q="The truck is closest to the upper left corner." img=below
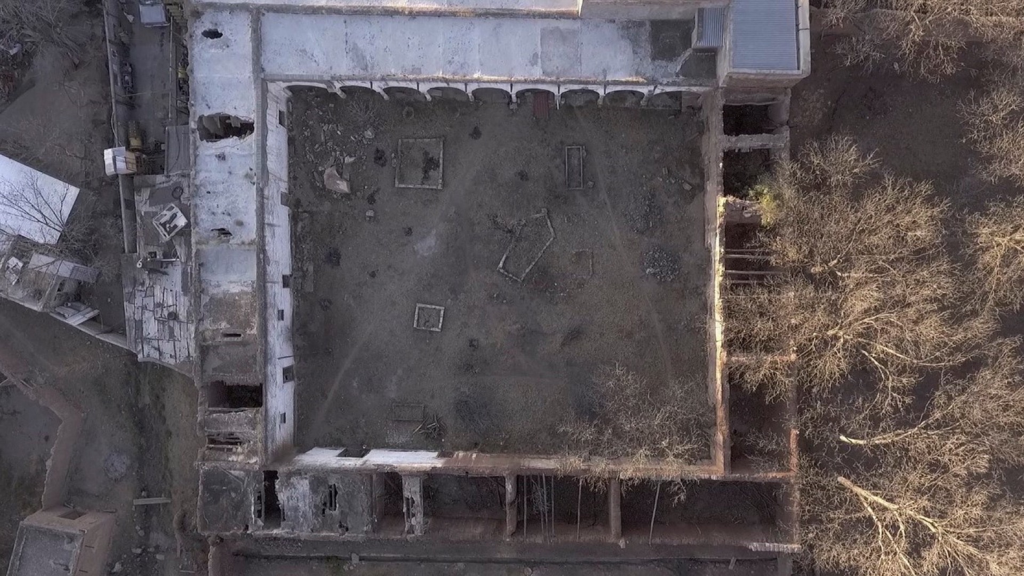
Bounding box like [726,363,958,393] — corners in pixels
[136,0,172,28]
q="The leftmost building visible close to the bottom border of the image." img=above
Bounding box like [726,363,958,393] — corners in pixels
[4,503,120,576]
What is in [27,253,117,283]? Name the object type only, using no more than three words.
shed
